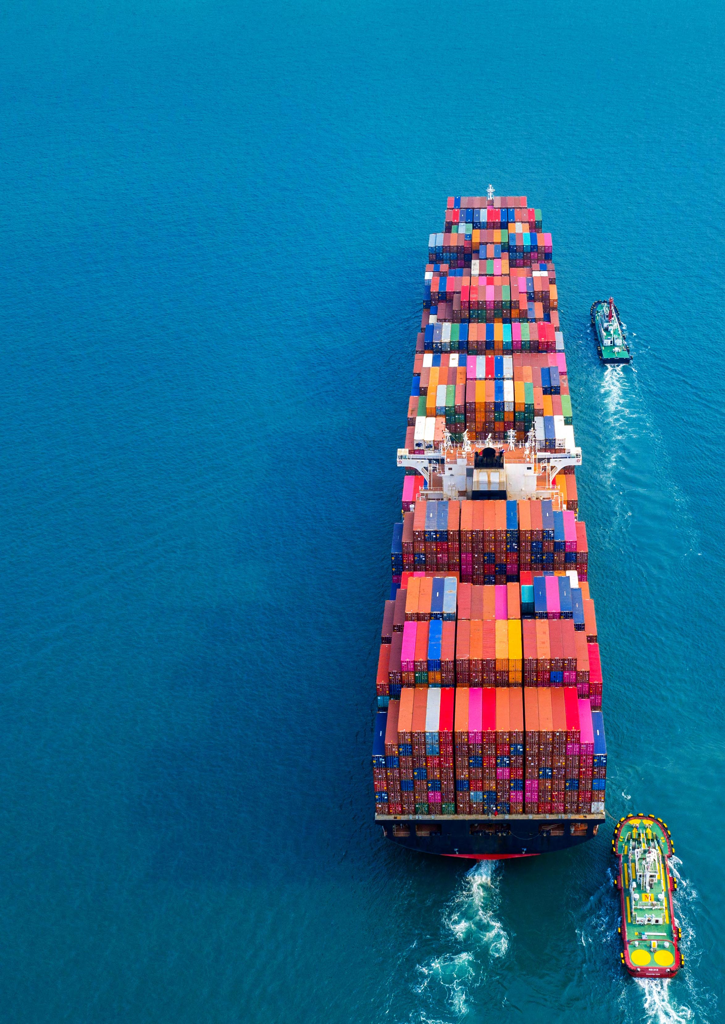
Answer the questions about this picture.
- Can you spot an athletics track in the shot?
No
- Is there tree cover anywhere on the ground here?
No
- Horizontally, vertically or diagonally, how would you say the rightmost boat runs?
vertically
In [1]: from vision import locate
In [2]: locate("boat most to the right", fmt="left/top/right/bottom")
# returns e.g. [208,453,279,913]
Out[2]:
[612,812,684,978]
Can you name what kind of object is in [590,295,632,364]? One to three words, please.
boat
